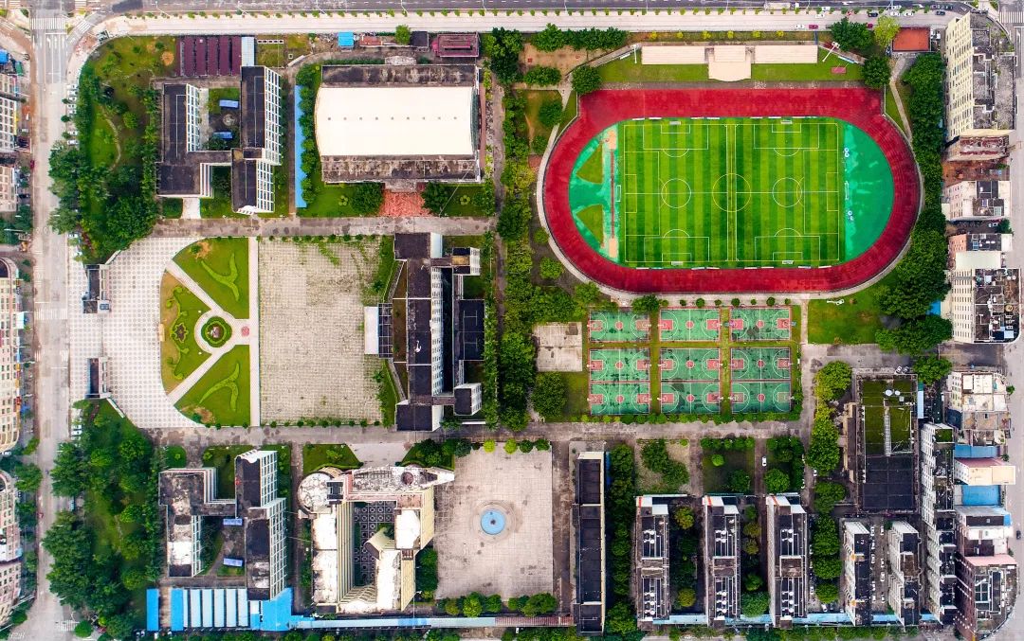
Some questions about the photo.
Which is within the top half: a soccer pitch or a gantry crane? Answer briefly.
soccer pitch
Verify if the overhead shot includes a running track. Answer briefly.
Yes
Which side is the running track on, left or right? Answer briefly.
right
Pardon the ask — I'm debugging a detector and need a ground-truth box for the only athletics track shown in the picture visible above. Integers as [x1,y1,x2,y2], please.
[536,81,925,299]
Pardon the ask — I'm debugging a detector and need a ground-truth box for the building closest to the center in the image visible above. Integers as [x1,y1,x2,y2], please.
[365,233,488,431]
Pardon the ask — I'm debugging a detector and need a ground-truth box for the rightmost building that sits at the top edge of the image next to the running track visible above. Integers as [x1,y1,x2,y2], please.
[946,10,1015,166]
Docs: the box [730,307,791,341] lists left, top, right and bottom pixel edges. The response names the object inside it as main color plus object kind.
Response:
green basketball court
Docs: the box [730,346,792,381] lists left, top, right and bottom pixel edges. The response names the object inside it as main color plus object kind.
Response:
green basketball court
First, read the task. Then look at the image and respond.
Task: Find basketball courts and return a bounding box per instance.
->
[659,347,721,381]
[588,308,651,342]
[658,307,721,342]
[730,307,791,341]
[730,346,792,381]
[588,347,651,381]
[730,380,792,415]
[659,381,721,415]
[589,381,652,416]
